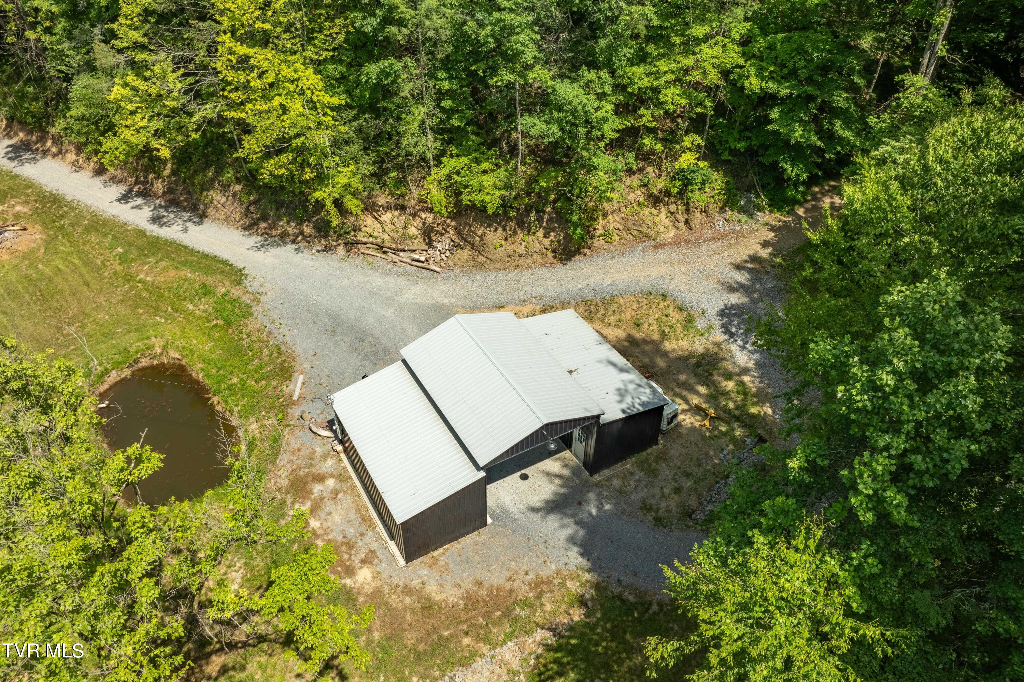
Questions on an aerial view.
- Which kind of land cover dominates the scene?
trees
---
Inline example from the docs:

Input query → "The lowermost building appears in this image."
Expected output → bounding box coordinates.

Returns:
[328,309,669,570]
